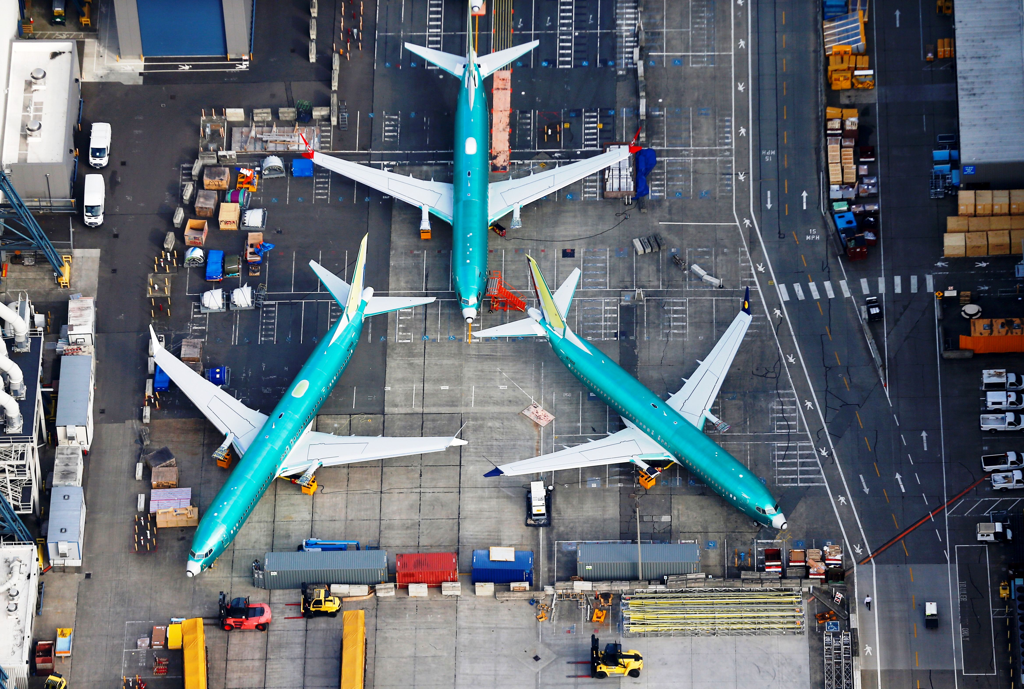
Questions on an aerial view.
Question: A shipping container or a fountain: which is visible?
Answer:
shipping container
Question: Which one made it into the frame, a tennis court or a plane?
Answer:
plane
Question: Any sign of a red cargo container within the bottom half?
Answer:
Yes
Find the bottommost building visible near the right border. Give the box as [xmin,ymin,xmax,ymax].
[960,318,1024,354]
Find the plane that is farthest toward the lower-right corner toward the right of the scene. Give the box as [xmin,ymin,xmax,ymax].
[474,253,787,529]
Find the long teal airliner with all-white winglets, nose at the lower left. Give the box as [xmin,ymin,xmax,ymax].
[145,235,468,576]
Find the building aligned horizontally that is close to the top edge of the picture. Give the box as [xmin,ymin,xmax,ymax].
[114,0,256,59]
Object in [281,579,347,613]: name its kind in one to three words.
work vehicle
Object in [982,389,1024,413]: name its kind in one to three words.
truck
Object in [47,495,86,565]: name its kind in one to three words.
building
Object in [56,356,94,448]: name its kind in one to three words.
building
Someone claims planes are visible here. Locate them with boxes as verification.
[297,0,644,326]
[474,253,787,529]
[466,0,487,12]
[145,235,468,576]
